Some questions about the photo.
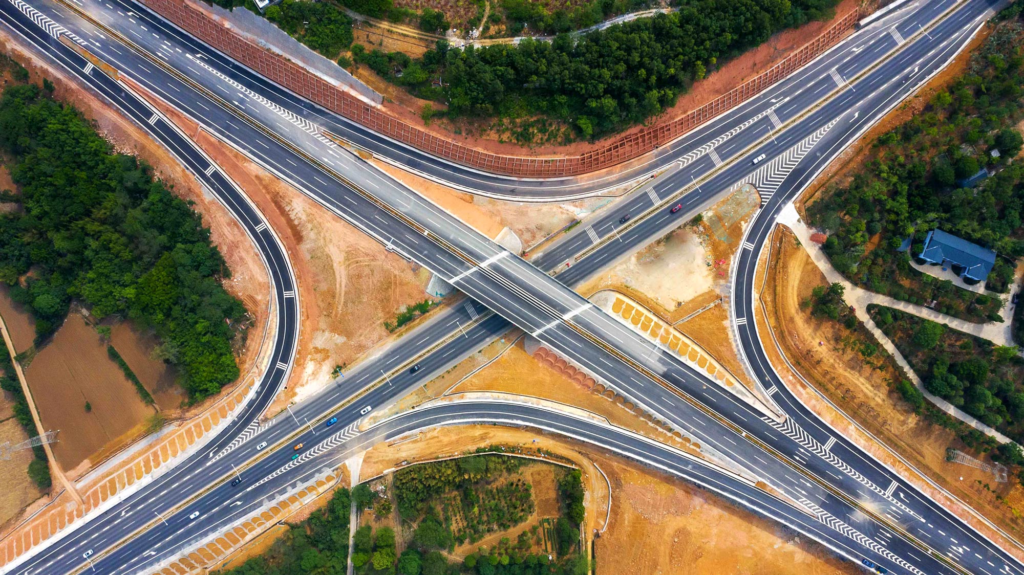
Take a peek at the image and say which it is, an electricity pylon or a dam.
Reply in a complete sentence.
Looking from above, you can make out an electricity pylon.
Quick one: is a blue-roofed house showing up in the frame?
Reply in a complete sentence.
Yes, a blue-roofed house is visible in the scene.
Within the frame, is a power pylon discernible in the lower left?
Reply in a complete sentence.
Yes, a power pylon appears in the lower left.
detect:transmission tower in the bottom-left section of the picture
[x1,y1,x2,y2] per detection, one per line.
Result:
[1,428,61,458]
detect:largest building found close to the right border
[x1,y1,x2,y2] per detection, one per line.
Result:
[923,228,998,285]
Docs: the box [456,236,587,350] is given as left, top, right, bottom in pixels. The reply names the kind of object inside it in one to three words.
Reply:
bridge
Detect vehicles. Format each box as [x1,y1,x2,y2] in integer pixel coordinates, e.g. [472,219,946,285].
[361,406,371,414]
[84,550,94,558]
[753,154,765,164]
[189,511,199,519]
[294,443,304,451]
[231,478,242,487]
[862,559,874,568]
[874,565,888,575]
[257,441,267,450]
[327,417,338,426]
[618,214,631,224]
[1011,292,1020,305]
[409,365,420,373]
[671,204,681,212]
